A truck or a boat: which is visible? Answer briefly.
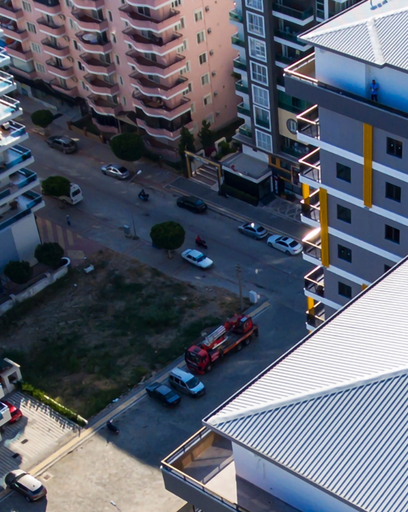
truck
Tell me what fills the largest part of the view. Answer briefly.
buildings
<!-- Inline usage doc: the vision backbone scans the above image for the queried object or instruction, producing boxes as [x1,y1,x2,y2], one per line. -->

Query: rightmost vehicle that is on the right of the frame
[266,234,302,255]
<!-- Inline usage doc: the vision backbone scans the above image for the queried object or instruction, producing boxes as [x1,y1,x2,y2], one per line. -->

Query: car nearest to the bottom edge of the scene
[0,471,51,502]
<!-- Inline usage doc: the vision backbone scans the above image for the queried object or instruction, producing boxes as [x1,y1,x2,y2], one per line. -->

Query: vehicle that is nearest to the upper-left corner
[44,135,80,154]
